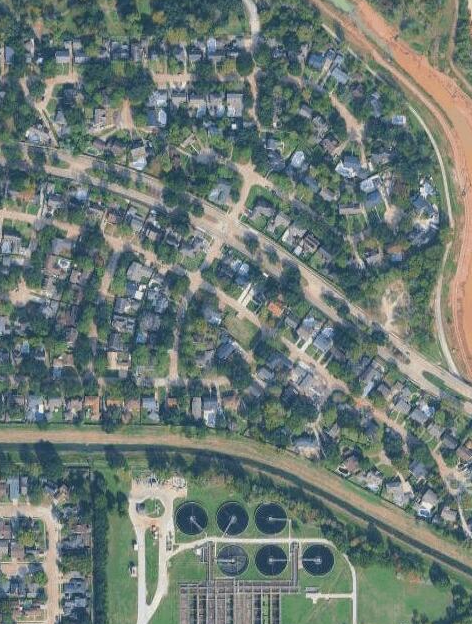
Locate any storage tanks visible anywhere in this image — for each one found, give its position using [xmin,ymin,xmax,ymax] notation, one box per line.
[301,544,334,577]
[217,501,249,535]
[214,544,249,577]
[176,501,208,534]
[255,544,292,577]
[255,501,292,534]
